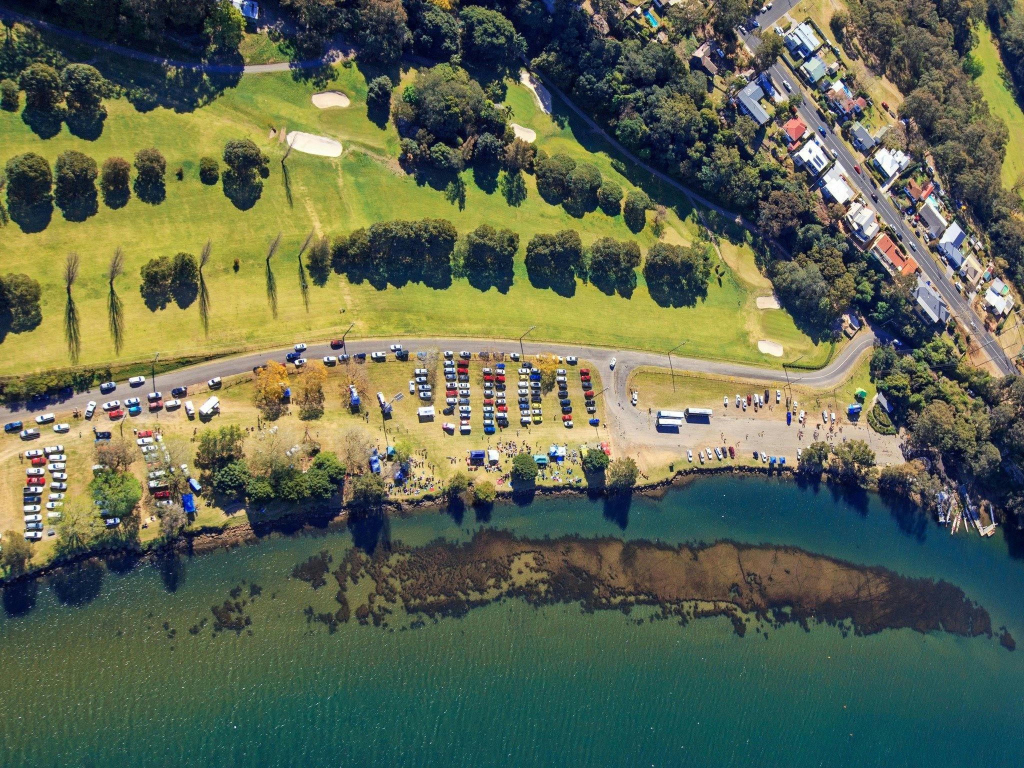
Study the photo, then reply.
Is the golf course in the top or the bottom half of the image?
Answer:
top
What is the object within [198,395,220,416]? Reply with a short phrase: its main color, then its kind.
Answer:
white camper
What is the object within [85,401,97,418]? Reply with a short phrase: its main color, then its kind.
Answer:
white vehicle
